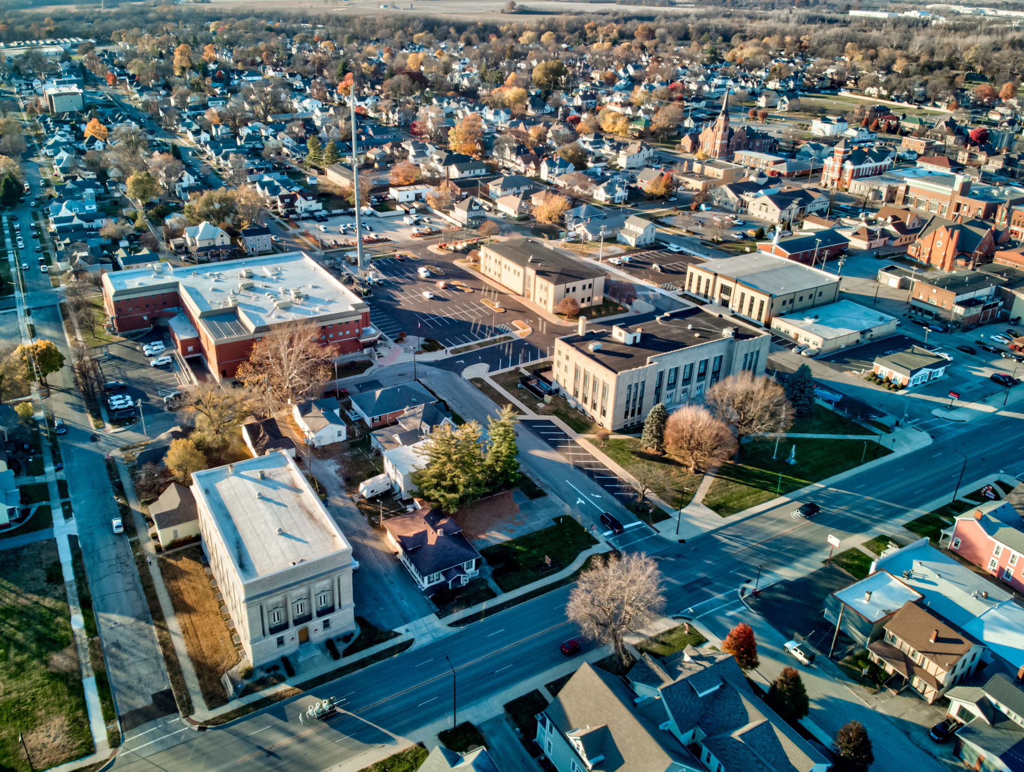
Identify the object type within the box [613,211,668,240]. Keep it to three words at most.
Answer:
house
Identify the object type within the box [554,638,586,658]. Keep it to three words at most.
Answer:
car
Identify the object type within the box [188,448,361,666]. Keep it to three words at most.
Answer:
building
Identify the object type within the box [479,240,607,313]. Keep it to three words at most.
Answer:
building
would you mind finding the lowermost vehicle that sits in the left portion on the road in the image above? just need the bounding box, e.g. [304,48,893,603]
[299,696,344,723]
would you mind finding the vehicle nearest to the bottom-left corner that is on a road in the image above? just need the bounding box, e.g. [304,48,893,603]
[111,517,126,534]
